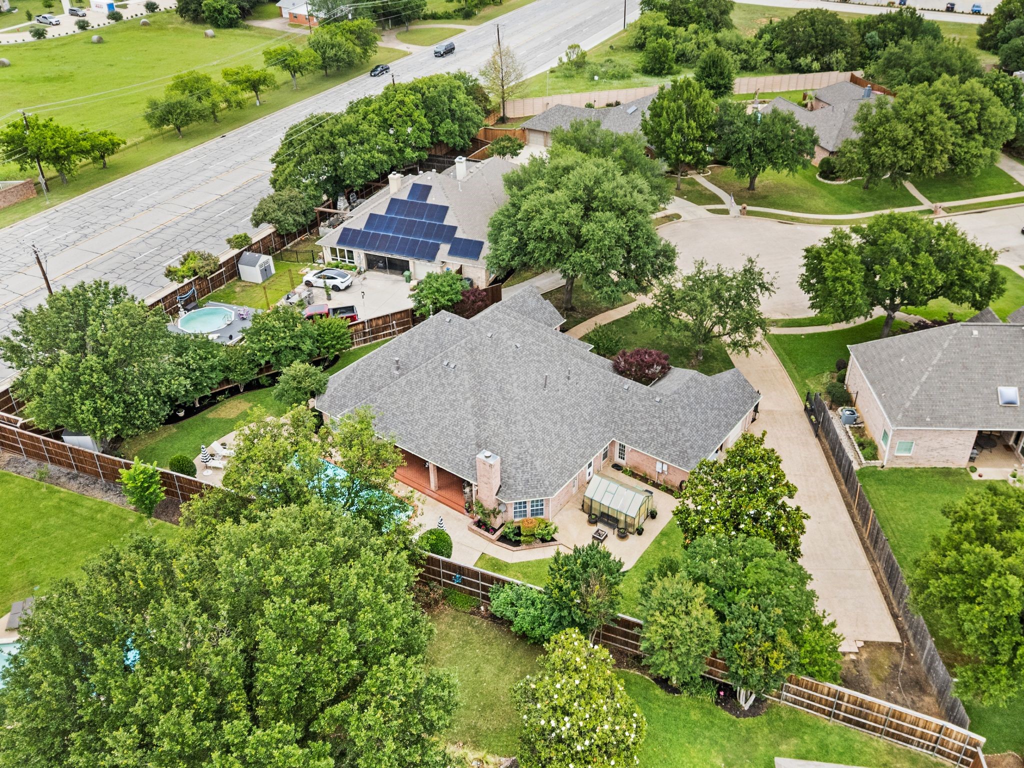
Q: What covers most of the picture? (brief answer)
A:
trees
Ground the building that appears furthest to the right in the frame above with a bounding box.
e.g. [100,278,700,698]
[849,310,1024,457]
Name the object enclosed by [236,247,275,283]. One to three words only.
shed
